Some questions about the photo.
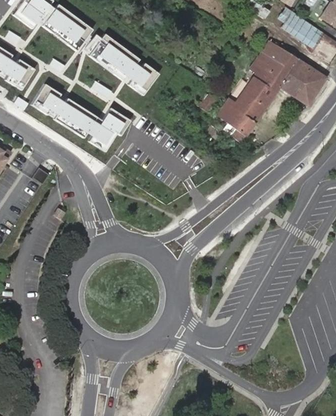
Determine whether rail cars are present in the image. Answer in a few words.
No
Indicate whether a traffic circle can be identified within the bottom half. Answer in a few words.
Yes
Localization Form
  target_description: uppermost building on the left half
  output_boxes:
[12,0,94,56]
